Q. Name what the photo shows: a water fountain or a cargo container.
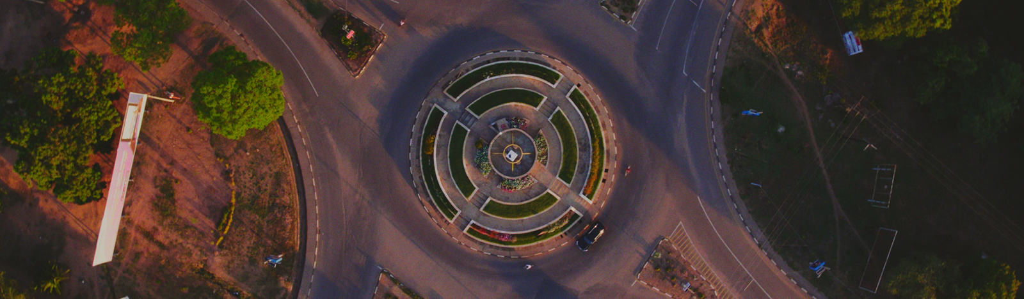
water fountain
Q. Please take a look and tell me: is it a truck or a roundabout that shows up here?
roundabout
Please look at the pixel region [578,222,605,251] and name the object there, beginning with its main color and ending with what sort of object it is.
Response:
black car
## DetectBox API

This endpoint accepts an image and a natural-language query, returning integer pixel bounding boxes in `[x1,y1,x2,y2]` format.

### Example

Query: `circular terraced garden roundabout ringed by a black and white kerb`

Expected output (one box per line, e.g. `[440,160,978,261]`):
[409,50,618,258]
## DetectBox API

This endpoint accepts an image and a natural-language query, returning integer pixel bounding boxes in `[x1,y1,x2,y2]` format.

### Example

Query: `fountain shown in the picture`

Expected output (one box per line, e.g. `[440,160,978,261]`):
[489,129,537,178]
